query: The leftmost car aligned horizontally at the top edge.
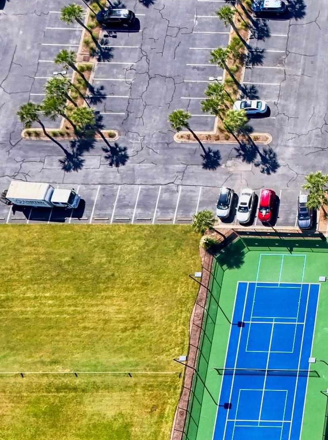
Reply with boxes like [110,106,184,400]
[97,10,135,28]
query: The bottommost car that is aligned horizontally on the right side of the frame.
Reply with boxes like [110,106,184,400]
[234,99,268,116]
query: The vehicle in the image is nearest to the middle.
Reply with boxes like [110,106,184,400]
[214,186,236,219]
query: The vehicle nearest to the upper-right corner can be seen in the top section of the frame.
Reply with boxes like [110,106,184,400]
[252,0,286,16]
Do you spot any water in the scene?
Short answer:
No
